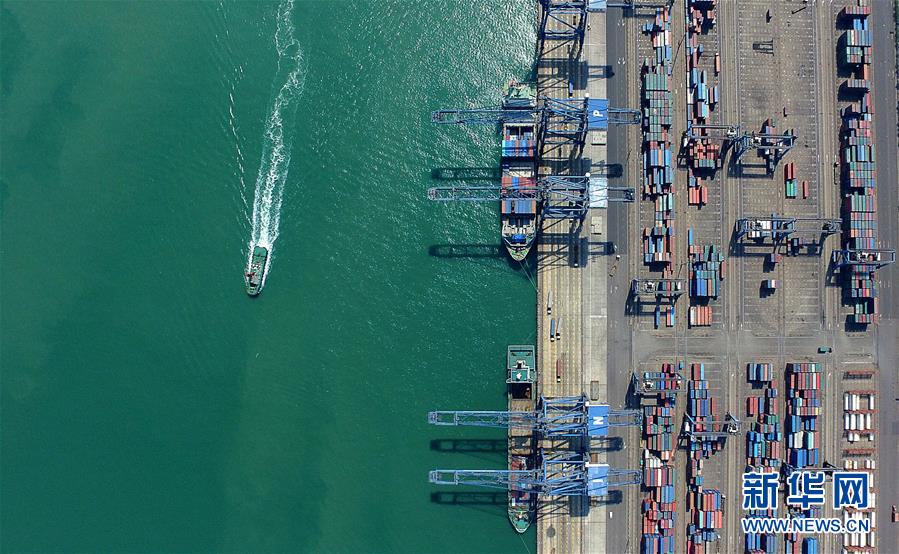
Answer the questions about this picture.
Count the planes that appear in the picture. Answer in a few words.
0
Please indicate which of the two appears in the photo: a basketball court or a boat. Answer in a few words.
boat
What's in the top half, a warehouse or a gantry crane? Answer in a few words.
gantry crane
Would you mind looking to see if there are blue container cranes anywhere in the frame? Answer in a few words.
Yes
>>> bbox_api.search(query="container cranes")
[428,389,644,437]
[732,133,792,160]
[680,125,737,151]
[427,172,637,221]
[780,218,842,239]
[734,218,795,239]
[429,442,644,498]
[430,94,642,151]
[630,368,684,391]
[683,411,740,435]
[631,277,686,298]
[830,248,895,269]
[539,0,637,44]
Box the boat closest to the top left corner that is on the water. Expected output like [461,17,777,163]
[244,248,270,295]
